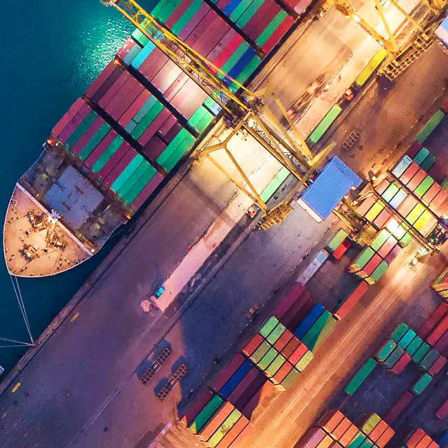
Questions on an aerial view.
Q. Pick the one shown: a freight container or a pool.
freight container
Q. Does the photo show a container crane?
Yes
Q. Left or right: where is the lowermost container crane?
right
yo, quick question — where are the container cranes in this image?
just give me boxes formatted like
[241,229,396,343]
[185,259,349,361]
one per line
[358,169,448,260]
[322,0,448,78]
[102,0,390,251]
